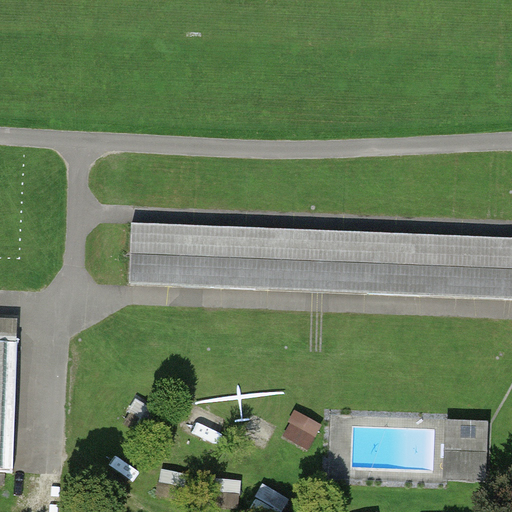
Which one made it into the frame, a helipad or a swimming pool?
swimming pool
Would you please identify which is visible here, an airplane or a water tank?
airplane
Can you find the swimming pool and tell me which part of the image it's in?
bottom right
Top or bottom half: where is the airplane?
bottom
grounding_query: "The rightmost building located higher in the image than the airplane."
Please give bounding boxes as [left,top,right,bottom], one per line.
[126,222,512,300]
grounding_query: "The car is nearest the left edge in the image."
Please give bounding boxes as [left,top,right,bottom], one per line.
[13,470,25,496]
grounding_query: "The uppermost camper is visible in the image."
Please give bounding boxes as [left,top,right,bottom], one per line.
[188,422,222,444]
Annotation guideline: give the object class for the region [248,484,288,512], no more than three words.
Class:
shed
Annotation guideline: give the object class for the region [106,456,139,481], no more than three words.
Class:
camper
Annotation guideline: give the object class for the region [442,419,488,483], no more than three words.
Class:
building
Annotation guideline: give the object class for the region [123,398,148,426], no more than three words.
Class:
building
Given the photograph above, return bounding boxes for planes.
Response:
[196,384,285,420]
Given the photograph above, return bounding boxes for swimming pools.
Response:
[350,426,435,477]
